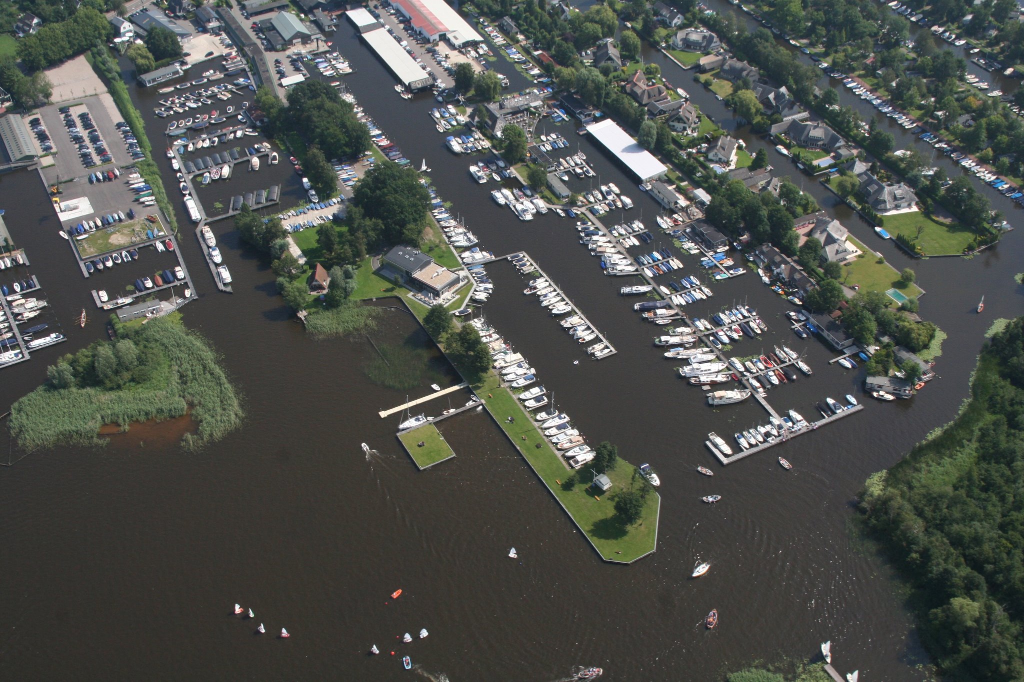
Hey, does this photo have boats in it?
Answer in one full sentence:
Yes, this view includes a boat.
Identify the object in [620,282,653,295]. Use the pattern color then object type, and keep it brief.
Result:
white boat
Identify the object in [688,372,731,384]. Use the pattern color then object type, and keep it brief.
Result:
white ship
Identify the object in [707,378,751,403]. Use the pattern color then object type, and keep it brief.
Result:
white ship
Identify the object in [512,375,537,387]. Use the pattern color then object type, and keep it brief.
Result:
white boat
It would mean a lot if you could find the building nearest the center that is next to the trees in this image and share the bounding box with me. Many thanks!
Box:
[384,245,456,297]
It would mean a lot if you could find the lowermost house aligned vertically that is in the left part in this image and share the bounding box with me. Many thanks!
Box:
[307,258,330,298]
